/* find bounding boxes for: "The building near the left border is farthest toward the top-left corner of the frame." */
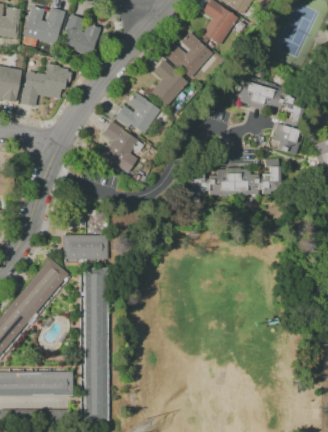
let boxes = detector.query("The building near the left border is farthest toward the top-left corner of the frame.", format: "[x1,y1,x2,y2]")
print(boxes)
[0,0,20,38]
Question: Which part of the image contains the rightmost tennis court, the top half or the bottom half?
top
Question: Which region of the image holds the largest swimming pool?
bottom left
